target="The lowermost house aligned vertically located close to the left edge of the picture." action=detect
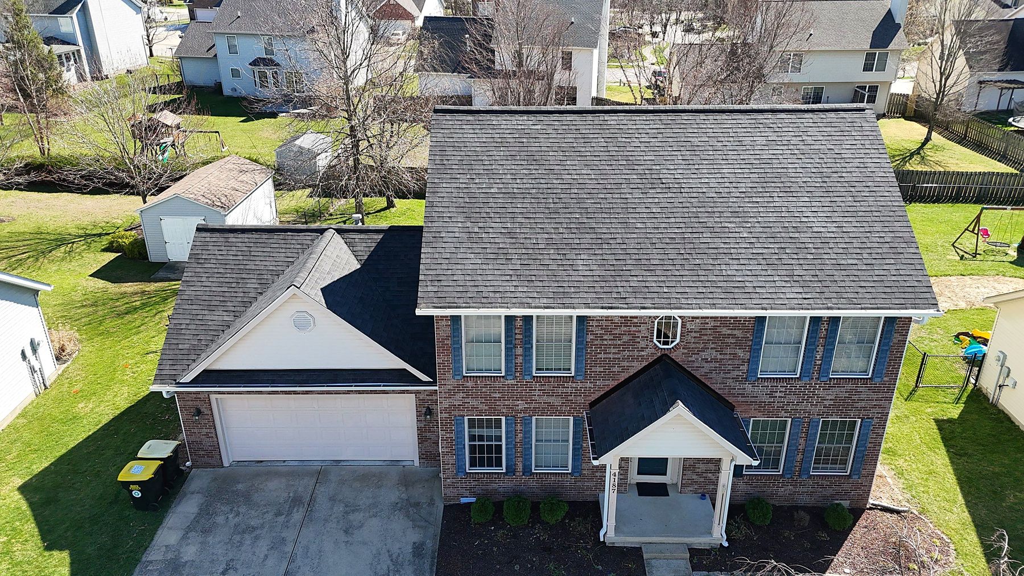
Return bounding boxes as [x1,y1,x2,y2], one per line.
[0,281,60,424]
